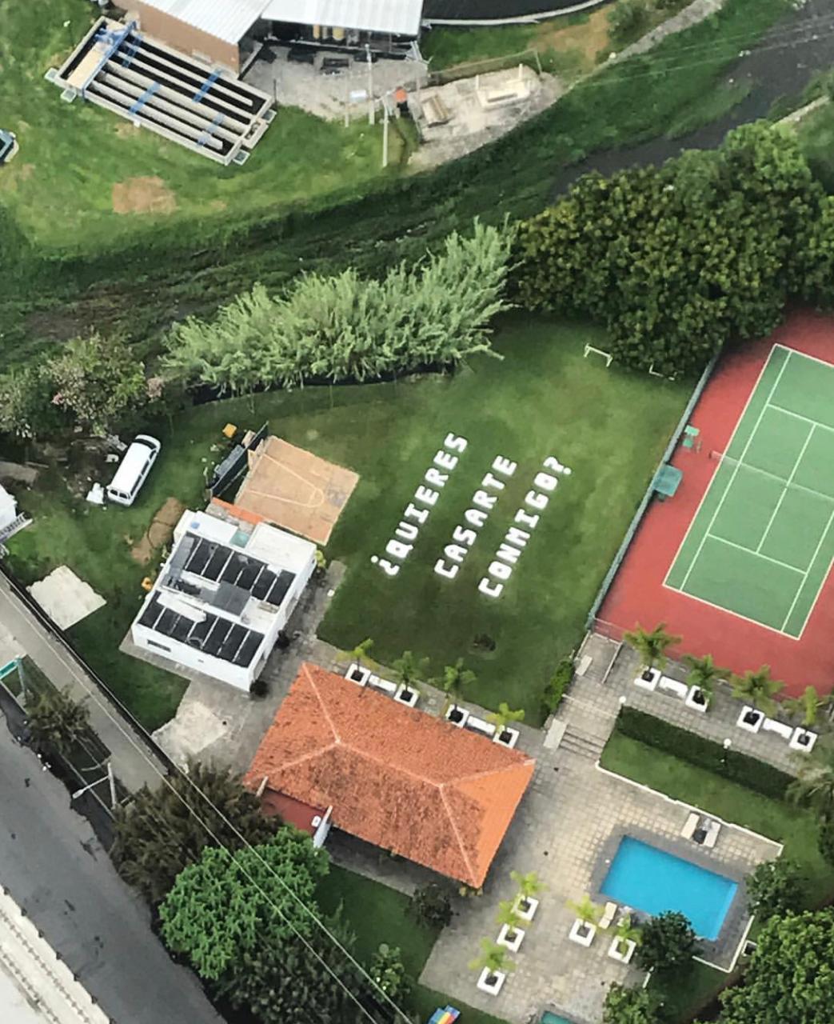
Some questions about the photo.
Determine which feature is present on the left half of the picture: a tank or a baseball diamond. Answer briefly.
tank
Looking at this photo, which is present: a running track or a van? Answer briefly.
van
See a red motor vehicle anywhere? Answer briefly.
No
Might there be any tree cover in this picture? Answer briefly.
Yes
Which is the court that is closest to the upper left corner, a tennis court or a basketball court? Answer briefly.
basketball court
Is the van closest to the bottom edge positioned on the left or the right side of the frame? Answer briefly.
left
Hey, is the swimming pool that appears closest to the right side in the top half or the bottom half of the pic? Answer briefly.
bottom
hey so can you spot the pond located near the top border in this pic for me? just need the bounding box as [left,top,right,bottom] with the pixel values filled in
[425,0,611,25]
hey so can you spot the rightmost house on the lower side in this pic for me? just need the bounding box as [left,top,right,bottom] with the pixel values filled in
[241,660,537,889]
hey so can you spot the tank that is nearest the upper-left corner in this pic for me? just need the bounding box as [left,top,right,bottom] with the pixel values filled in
[42,15,284,172]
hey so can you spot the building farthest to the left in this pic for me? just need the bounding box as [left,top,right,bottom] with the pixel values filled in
[0,485,33,556]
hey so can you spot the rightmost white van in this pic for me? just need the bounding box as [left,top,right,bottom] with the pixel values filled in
[106,443,155,511]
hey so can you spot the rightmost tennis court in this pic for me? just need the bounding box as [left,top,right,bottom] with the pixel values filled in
[593,257,834,730]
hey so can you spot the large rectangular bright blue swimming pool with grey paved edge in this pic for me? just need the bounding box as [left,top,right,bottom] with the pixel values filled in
[587,821,751,954]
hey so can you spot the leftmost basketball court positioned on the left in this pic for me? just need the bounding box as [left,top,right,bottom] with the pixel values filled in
[234,436,359,544]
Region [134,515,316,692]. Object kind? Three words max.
house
